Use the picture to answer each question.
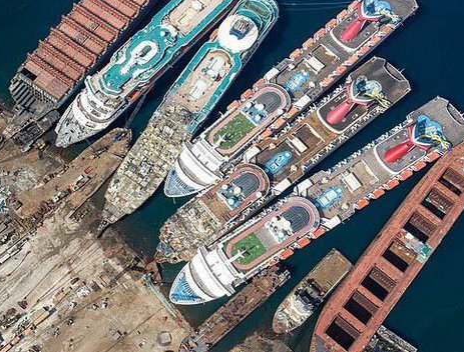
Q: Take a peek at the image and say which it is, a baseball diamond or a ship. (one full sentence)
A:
The one in the frame is a ship.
